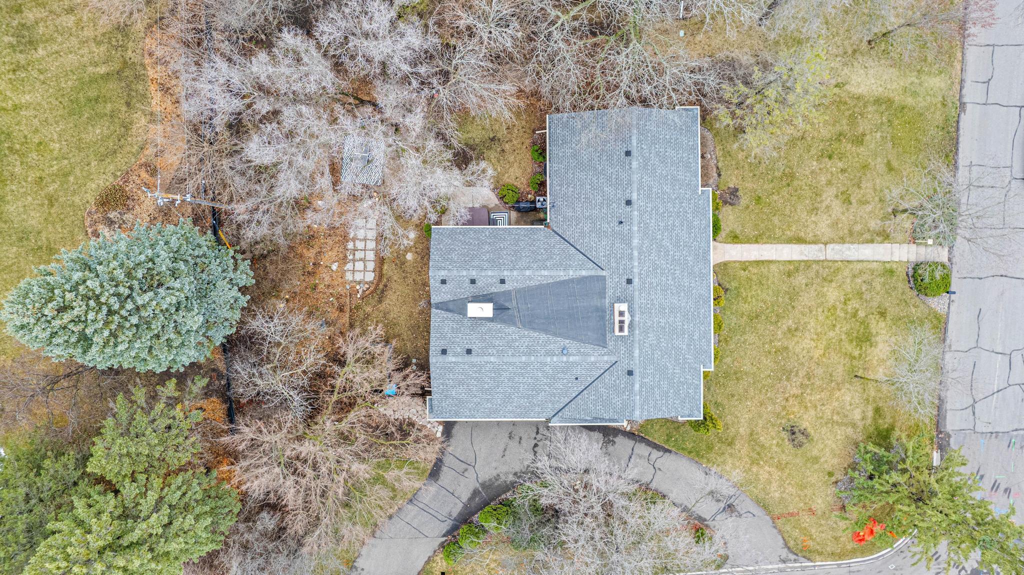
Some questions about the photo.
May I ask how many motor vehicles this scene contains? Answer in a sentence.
There are no motor vehicles in the image.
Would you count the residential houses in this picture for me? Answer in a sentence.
Only 1 residential house is visible.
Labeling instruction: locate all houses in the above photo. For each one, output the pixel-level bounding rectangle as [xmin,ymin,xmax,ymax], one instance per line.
[426,105,714,426]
